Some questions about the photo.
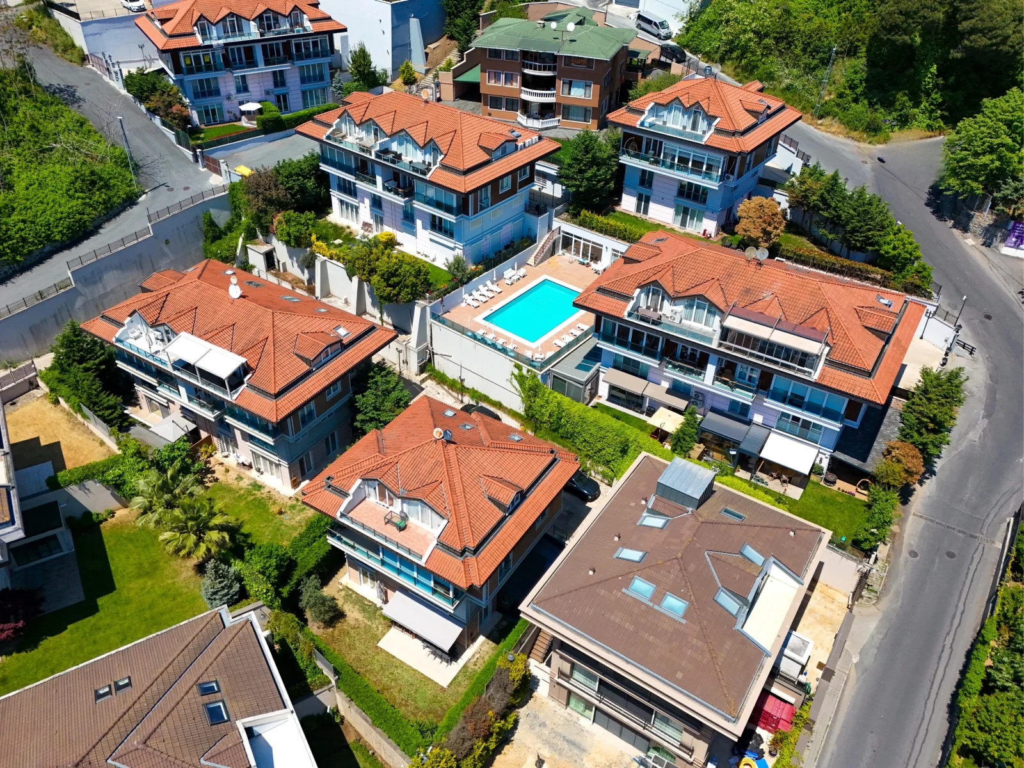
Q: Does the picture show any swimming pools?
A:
Yes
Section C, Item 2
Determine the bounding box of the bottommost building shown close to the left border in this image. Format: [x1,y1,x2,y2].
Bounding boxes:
[0,599,323,768]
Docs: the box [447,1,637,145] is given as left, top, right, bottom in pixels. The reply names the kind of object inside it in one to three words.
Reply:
house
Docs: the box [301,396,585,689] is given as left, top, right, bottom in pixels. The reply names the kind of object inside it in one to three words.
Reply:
house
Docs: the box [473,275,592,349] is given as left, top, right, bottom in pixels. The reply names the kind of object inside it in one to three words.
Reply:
swimming pool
